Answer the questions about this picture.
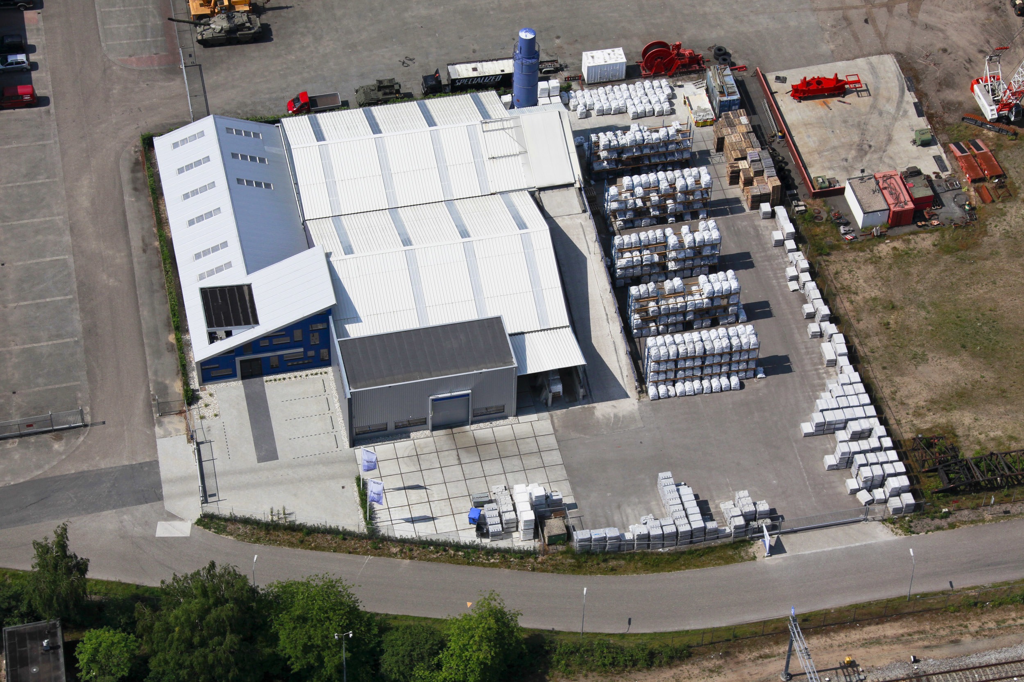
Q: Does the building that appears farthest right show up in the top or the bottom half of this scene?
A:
top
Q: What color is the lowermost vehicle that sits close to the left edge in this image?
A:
red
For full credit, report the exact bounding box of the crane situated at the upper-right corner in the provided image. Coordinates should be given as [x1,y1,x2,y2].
[962,38,1024,135]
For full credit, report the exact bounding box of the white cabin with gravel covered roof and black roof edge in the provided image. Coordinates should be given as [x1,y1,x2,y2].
[848,173,890,229]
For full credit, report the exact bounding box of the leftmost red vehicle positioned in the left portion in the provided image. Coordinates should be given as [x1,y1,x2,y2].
[0,83,36,109]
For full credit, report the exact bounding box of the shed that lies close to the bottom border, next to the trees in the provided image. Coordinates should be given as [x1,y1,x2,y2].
[2,617,67,682]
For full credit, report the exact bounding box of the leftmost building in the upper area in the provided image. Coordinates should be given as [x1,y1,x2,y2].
[150,113,338,387]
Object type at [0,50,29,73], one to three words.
car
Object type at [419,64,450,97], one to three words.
truck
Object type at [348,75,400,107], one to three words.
vehicle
